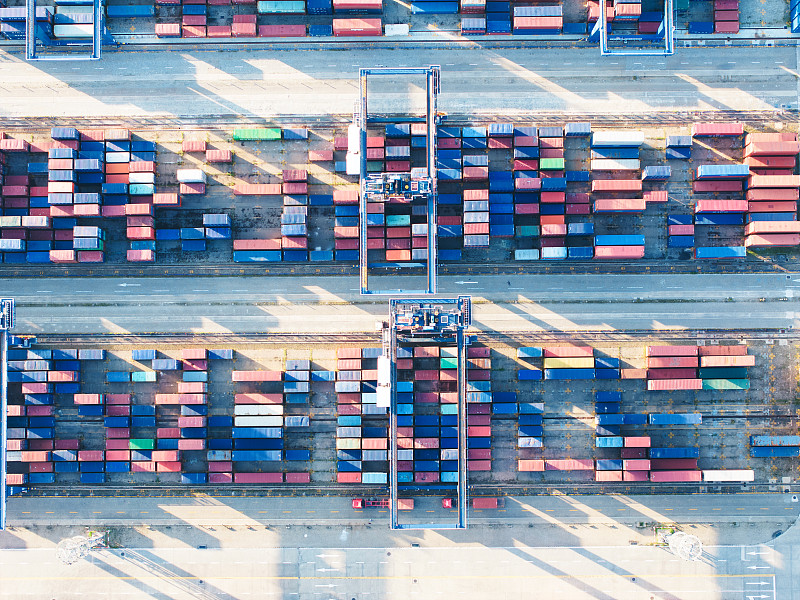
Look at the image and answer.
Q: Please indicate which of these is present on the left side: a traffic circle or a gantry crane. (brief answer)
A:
gantry crane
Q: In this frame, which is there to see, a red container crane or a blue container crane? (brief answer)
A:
blue container crane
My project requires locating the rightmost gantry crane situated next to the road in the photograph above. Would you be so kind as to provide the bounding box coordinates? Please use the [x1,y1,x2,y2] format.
[578,0,679,56]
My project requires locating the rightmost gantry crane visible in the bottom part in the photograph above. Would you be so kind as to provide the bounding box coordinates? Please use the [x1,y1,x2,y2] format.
[377,296,479,529]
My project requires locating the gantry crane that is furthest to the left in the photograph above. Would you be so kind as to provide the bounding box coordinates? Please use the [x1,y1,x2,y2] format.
[0,299,47,531]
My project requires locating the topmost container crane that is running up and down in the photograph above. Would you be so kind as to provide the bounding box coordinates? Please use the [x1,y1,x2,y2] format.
[347,65,451,294]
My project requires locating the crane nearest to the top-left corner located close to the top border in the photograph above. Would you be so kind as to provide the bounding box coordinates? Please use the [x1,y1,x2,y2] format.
[23,0,128,60]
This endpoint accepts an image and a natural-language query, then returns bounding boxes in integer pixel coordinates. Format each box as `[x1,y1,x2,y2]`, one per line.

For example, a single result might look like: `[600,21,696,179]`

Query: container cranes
[347,65,451,294]
[377,296,479,529]
[23,0,128,60]
[0,299,47,531]
[578,0,679,56]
